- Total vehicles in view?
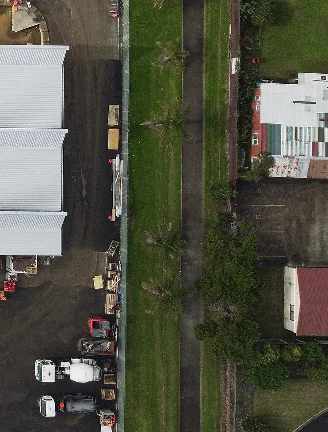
2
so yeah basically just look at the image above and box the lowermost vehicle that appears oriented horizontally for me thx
[38,392,100,421]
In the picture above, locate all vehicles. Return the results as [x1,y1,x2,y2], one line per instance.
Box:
[33,357,106,386]
[38,392,100,421]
